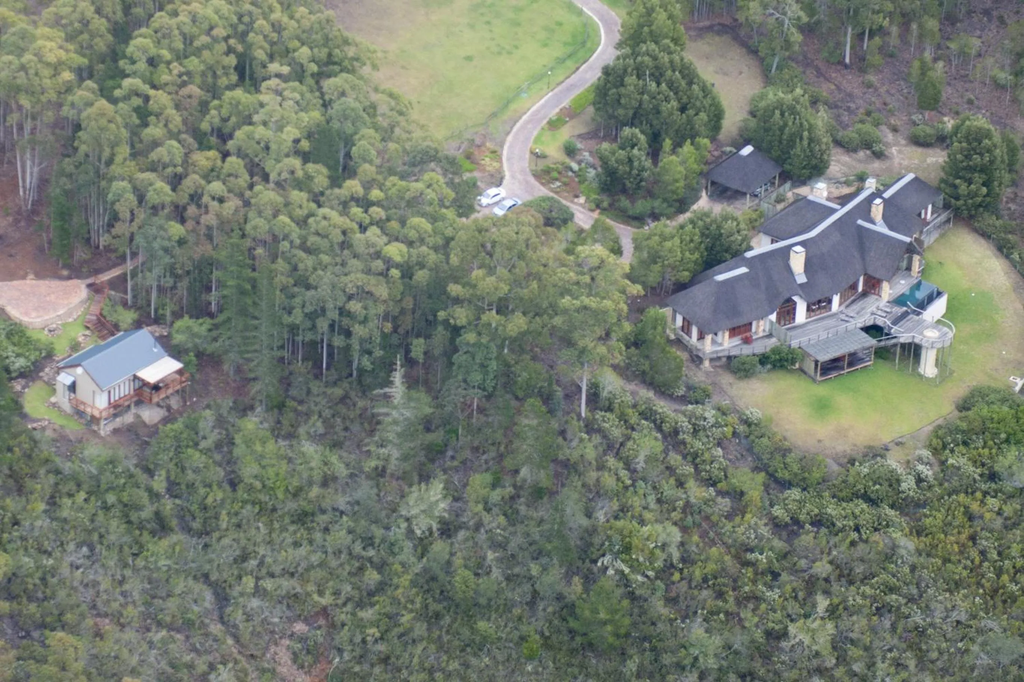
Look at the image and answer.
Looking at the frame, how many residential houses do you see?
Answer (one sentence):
My tally gives 2 residential houses in this view.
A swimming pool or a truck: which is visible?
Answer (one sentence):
The image shows a swimming pool.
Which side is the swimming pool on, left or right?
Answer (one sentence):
The swimming pool appears in the right half of the scene.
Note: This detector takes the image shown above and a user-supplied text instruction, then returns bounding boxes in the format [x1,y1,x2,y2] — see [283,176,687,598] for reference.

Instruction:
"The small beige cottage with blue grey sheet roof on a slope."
[57,328,184,424]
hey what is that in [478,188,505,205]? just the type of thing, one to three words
car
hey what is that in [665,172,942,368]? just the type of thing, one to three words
house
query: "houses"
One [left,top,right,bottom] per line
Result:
[665,172,942,368]
[57,328,184,424]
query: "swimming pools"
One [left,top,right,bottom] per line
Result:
[891,278,948,326]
